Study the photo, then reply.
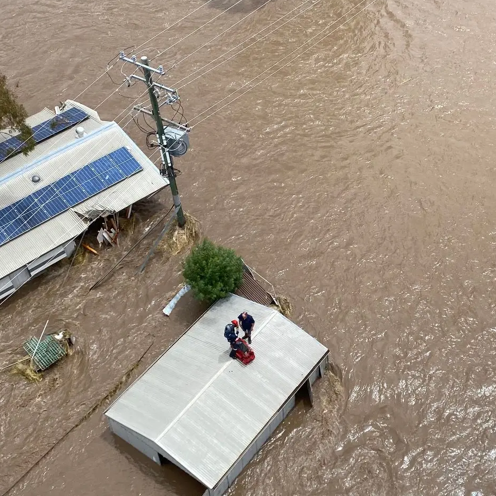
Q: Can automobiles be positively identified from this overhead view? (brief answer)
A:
No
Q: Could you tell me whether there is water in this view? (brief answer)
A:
Yes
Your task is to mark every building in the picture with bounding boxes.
[0,93,167,301]
[103,290,331,496]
